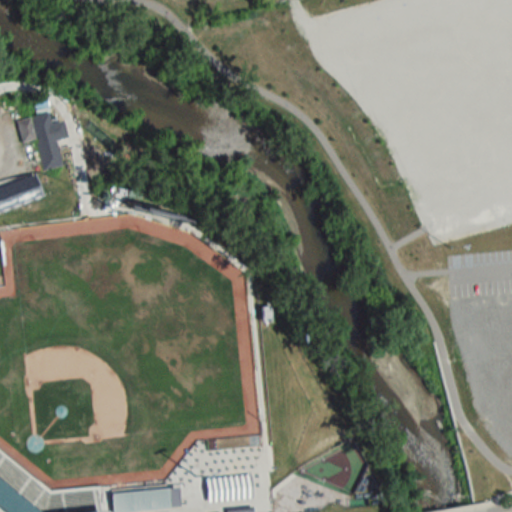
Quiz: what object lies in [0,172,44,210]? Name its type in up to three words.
building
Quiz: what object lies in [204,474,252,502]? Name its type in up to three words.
building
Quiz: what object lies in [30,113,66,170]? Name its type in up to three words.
house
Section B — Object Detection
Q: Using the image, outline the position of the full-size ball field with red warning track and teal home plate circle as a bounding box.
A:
[0,212,259,490]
